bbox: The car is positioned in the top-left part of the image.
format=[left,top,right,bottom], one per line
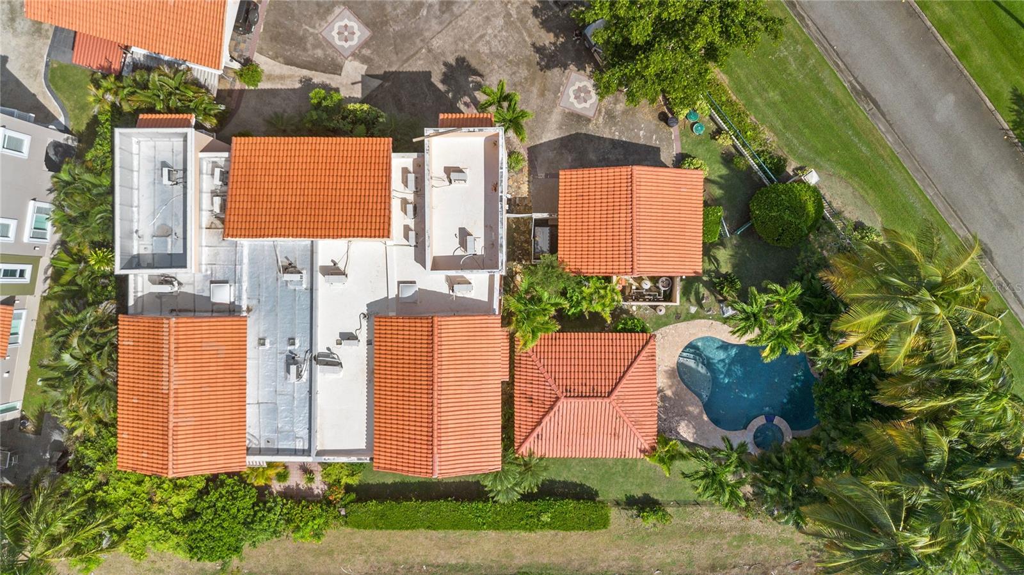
[227,0,260,33]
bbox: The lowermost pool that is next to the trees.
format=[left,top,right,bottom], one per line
[677,336,825,449]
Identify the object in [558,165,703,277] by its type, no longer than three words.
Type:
building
